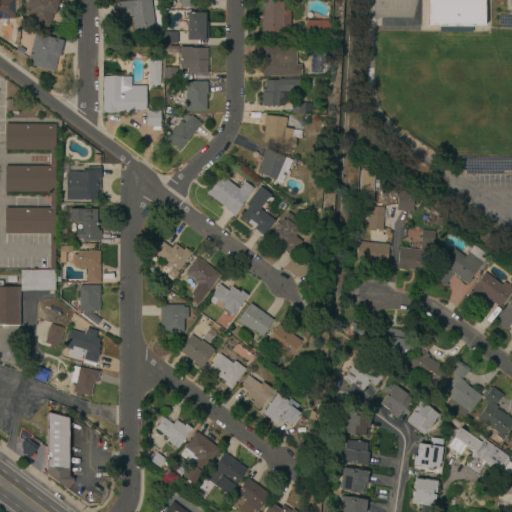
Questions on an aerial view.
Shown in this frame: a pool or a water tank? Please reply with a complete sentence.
It is a pool that can be seen here.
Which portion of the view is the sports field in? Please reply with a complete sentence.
The sports field sits in the top right section of the image.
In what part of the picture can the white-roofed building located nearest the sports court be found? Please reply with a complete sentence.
The white-roofed building located nearest the sports court sits in the top right section of the image.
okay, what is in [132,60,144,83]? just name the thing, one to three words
swimming pool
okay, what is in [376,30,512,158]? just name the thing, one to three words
sports field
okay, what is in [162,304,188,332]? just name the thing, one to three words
house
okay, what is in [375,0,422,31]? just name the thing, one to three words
sports court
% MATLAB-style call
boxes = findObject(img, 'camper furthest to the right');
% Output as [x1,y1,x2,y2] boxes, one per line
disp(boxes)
[487,306,502,324]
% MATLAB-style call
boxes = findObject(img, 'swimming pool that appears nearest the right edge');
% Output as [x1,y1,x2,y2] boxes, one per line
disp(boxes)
[489,265,509,282]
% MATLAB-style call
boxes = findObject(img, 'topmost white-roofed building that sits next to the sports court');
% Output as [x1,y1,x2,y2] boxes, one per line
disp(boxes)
[429,0,488,31]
